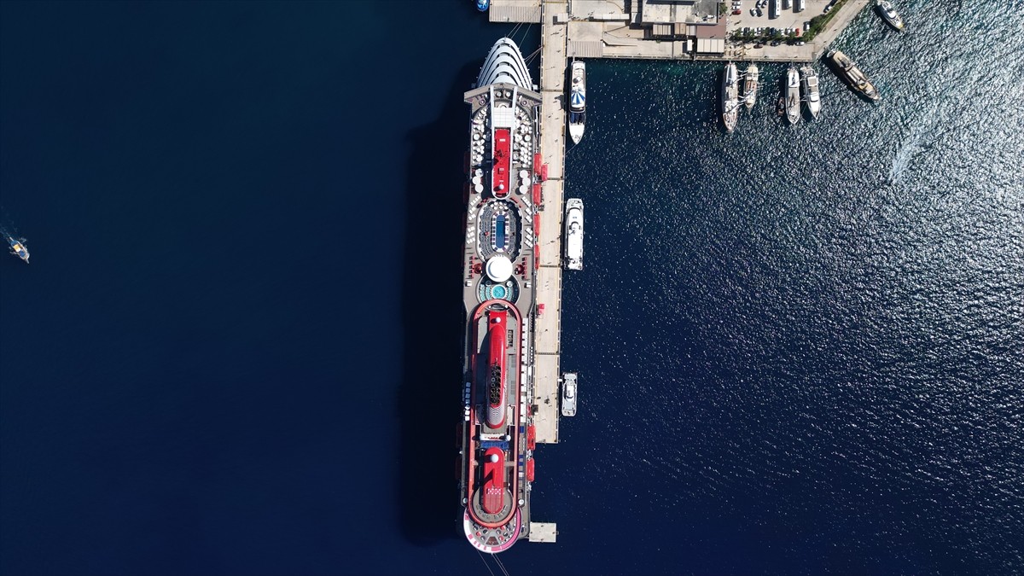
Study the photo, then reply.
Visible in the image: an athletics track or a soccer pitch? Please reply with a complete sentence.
Looking from above, you can make out an athletics track.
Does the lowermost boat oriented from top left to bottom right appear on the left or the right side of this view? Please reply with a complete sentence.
It is on the left.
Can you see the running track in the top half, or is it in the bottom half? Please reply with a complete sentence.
You can find the running track in the bottom half.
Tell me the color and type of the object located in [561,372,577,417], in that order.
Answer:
white boat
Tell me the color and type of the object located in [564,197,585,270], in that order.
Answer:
white boat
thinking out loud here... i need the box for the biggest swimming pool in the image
[491,211,510,253]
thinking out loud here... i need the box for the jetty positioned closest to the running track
[535,0,569,443]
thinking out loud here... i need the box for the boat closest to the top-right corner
[871,0,906,32]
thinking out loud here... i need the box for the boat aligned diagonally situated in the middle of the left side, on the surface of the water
[9,237,30,265]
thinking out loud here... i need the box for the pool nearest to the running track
[489,284,509,299]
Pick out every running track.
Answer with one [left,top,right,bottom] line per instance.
[470,300,521,524]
